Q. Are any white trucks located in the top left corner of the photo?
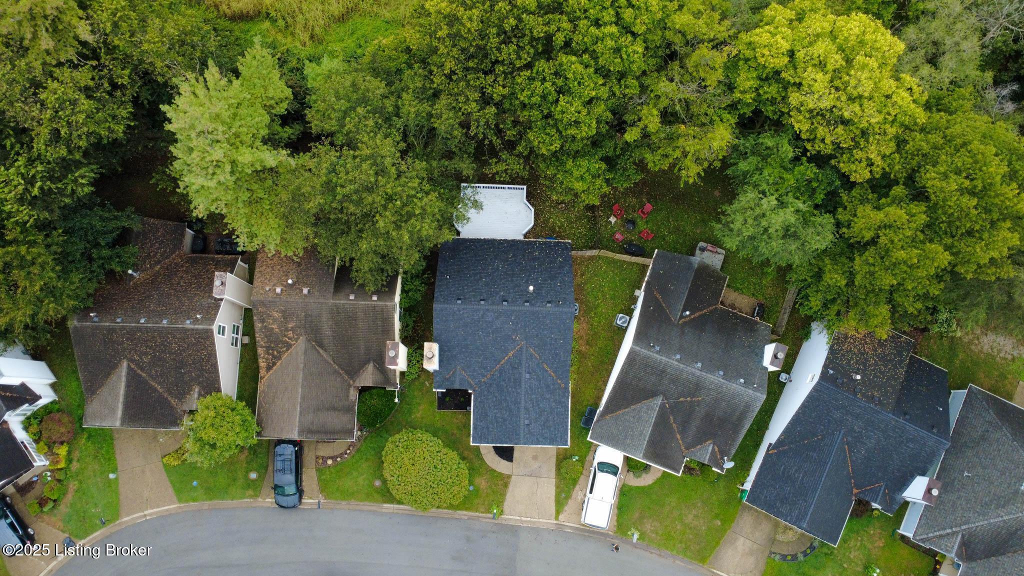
No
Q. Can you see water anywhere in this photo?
No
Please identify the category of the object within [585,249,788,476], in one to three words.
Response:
house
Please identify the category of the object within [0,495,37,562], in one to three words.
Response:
vehicle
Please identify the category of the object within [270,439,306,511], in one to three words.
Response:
car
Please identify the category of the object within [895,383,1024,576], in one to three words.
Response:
house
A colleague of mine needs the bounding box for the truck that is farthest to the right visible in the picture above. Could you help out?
[583,444,625,532]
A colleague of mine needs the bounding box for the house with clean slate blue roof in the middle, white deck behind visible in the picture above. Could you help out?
[425,235,577,448]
